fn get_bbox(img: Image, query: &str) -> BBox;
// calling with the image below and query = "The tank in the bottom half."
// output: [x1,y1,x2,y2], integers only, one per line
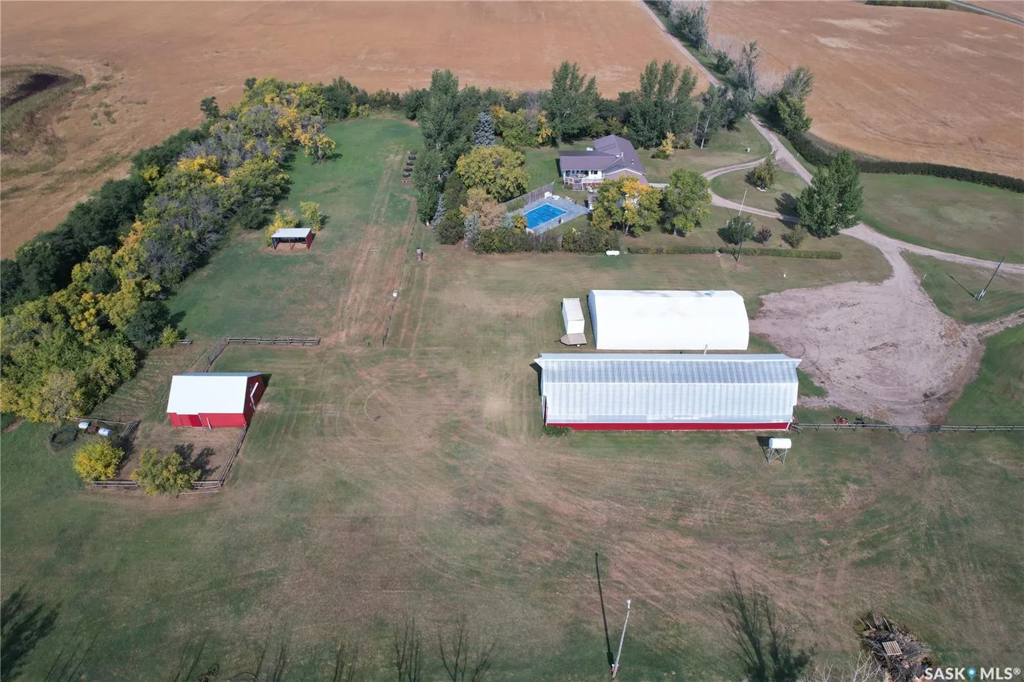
[762,437,795,465]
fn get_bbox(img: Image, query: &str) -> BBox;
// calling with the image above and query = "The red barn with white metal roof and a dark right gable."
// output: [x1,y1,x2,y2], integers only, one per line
[163,375,263,429]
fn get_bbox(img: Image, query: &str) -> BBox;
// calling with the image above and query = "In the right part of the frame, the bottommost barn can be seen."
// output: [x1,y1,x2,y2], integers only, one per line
[533,343,802,429]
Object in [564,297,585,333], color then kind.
white trailer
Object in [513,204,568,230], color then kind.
blue swimming pool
